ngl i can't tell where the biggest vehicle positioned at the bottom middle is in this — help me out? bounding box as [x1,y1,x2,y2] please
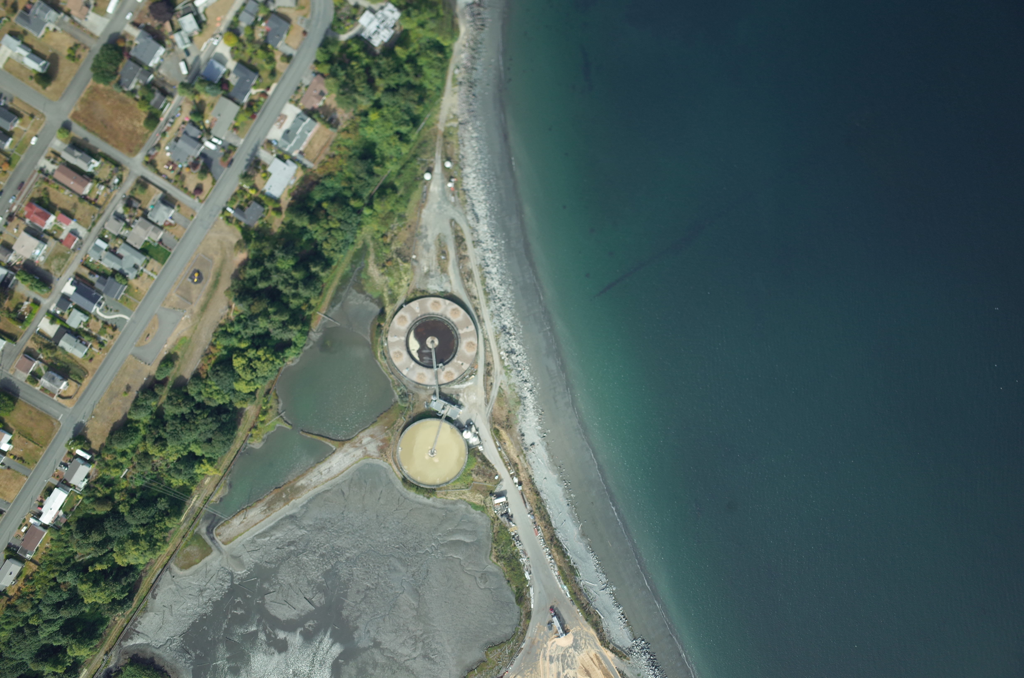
[549,607,565,638]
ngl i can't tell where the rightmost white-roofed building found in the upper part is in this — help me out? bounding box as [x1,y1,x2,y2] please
[358,4,394,48]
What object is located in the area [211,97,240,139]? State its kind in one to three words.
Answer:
house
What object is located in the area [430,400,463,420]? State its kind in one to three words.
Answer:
building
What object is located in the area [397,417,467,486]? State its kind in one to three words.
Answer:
storage tank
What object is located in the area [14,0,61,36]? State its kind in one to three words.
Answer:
house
